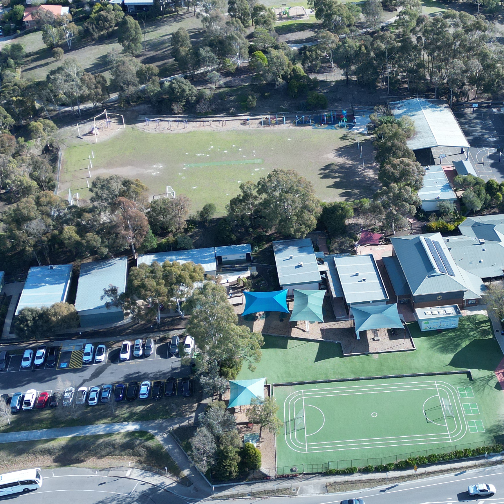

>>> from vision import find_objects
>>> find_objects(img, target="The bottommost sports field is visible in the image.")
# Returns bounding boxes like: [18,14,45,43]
[274,374,495,473]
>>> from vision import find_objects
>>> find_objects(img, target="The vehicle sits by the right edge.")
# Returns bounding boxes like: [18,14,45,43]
[466,482,497,497]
